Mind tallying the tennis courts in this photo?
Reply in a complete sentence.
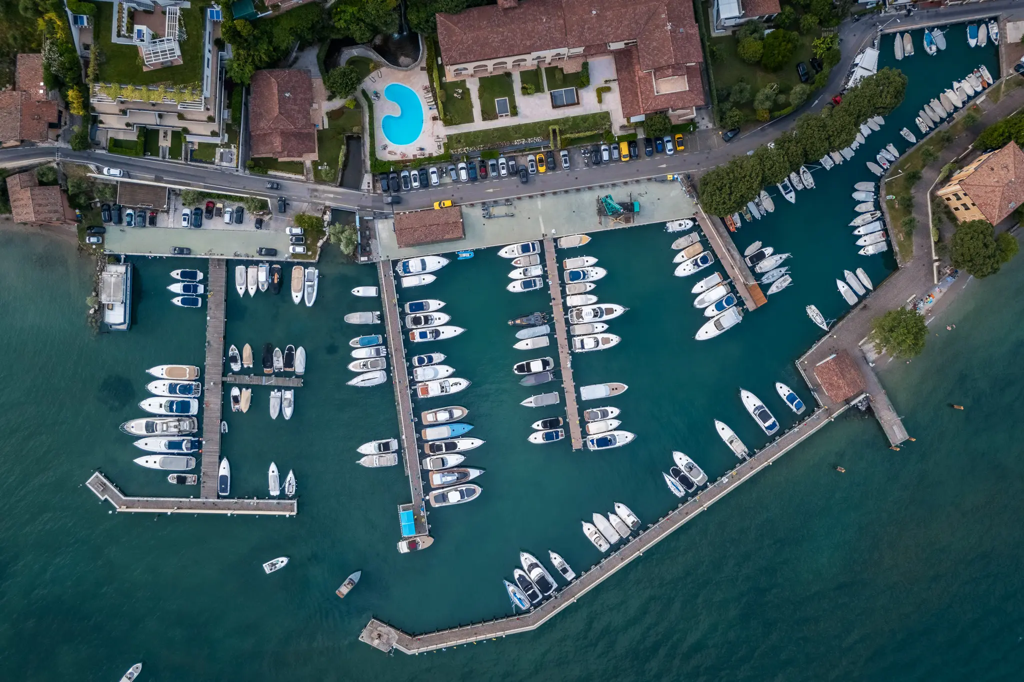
The count of tennis courts is 0.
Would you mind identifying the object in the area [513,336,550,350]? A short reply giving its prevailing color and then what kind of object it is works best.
white boat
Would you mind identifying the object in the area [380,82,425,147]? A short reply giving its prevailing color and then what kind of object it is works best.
blue swimming pool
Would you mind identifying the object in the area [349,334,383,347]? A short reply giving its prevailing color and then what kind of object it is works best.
blue boat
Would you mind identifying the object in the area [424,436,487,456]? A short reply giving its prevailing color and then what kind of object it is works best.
white boat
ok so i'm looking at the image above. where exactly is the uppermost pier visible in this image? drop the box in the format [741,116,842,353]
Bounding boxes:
[694,215,767,311]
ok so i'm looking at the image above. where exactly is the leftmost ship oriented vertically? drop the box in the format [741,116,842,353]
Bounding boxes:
[100,249,136,331]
